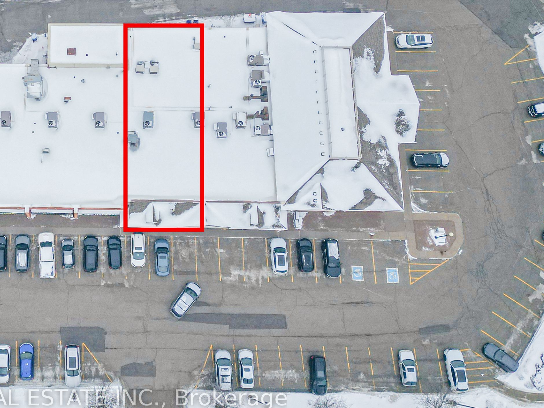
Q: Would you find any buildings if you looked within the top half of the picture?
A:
Yes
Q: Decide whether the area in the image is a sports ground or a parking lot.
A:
parking lot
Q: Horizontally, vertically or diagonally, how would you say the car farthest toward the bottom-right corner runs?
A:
diagonally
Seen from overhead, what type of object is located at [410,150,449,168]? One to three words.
car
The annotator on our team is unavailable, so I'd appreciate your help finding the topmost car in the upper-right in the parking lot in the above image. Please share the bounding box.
[393,31,435,50]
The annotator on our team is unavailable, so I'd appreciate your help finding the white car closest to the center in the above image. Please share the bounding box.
[270,238,288,275]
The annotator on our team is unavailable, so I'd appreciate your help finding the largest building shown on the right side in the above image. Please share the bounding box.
[260,11,409,212]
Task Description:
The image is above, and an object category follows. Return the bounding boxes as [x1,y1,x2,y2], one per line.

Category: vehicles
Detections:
[398,351,418,387]
[170,284,199,318]
[322,239,344,278]
[106,236,124,269]
[13,236,31,273]
[237,350,256,389]
[37,233,56,279]
[309,356,329,395]
[393,31,435,50]
[154,239,171,277]
[524,100,544,118]
[17,343,36,381]
[0,236,9,272]
[480,342,520,376]
[410,150,449,168]
[61,239,77,269]
[129,233,147,268]
[297,239,315,273]
[63,345,82,387]
[0,345,12,383]
[82,236,100,273]
[443,348,470,393]
[535,142,544,157]
[215,350,234,392]
[270,238,288,275]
